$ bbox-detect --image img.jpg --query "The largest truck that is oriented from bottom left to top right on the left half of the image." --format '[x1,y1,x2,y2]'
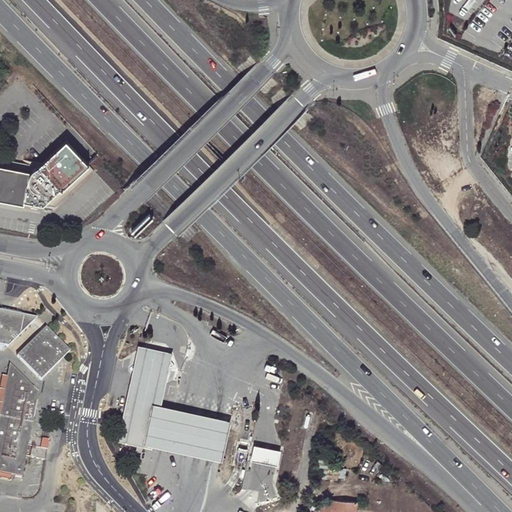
[150,490,172,511]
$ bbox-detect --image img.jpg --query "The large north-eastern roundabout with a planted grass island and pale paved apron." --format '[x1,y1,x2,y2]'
[278,0,428,89]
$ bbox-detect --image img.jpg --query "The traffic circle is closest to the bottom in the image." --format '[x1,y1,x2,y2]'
[56,230,148,322]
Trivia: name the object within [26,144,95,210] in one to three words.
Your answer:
building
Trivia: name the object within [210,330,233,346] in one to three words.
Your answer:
vehicle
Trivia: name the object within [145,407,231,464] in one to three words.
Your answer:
building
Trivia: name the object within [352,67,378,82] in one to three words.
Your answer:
vehicle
